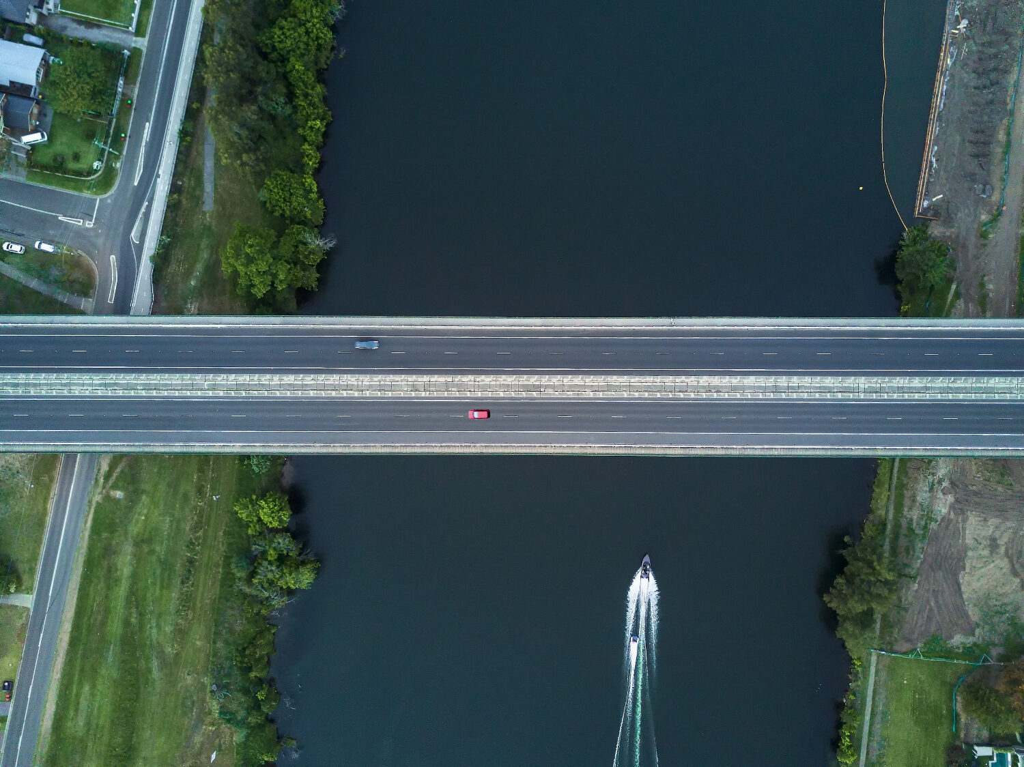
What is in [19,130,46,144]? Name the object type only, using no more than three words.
vehicle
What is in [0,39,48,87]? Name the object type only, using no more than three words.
house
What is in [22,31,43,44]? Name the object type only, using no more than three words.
vehicle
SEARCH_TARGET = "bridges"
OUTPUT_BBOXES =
[0,314,1024,457]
